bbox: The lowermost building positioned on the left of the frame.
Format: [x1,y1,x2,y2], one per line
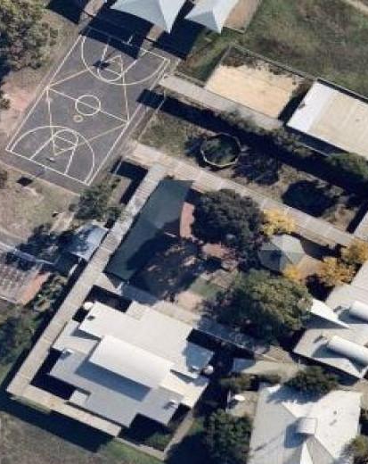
[48,301,214,427]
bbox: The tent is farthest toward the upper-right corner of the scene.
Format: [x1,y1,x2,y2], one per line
[183,0,234,36]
